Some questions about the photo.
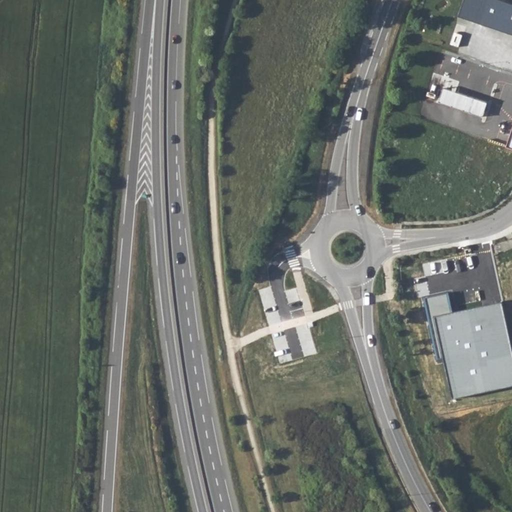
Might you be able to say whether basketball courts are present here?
No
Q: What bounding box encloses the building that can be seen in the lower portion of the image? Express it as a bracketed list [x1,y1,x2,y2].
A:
[421,288,512,399]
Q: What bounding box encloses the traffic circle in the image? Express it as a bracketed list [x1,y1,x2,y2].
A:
[308,209,387,288]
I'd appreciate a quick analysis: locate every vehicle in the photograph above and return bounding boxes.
[172,80,176,90]
[368,335,374,347]
[348,105,354,116]
[450,58,462,64]
[176,252,182,264]
[273,332,284,338]
[454,261,460,273]
[171,202,176,214]
[368,266,373,278]
[466,256,474,270]
[442,260,448,274]
[356,108,362,121]
[274,349,288,356]
[430,262,436,274]
[428,501,436,512]
[355,204,362,216]
[415,277,426,284]
[291,301,302,308]
[364,293,370,306]
[172,34,177,45]
[390,419,397,430]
